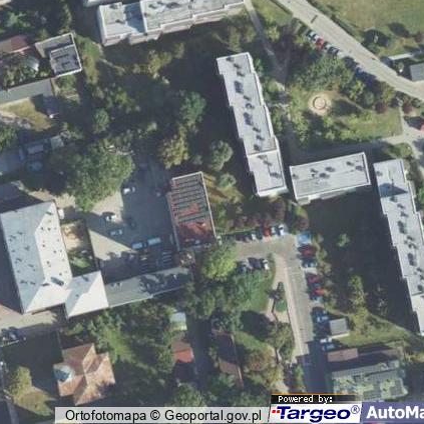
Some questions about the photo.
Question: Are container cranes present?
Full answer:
No, no container crane can be seen from above.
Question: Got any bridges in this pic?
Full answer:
No, there appears to be no bridge in this shot.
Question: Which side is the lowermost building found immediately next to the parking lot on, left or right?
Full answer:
It is on the right.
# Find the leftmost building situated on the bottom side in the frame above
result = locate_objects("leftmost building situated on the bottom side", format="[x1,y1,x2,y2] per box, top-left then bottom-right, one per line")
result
[0,201,76,317]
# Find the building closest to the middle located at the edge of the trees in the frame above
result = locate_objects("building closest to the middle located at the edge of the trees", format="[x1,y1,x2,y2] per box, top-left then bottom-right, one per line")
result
[168,171,216,253]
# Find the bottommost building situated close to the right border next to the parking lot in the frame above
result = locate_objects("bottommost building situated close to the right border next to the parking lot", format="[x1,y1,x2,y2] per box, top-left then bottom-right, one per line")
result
[330,359,408,409]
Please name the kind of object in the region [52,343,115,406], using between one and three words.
house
